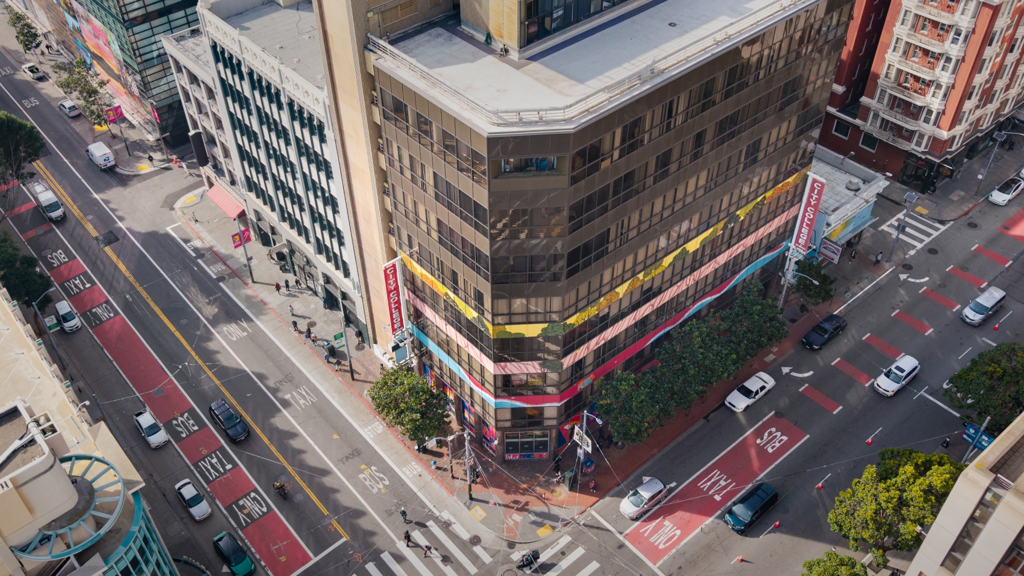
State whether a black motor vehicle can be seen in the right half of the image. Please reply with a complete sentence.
Yes, a black motor vehicle shows up in the right half of the image.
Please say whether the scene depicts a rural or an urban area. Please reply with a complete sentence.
It looks urban.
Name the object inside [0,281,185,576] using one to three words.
building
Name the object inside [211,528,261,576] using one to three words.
car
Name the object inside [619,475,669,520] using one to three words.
car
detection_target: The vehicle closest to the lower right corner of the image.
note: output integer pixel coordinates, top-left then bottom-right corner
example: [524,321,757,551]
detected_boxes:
[875,356,923,397]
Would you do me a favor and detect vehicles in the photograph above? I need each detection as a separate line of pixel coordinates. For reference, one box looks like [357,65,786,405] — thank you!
[727,371,780,415]
[81,137,119,173]
[804,314,853,354]
[211,528,261,576]
[619,475,669,520]
[875,356,923,397]
[963,286,1007,325]
[26,172,68,220]
[208,400,253,445]
[276,482,290,500]
[172,477,218,527]
[130,407,174,453]
[52,301,85,334]
[990,178,1024,206]
[59,99,85,120]
[523,544,540,576]
[726,483,784,536]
